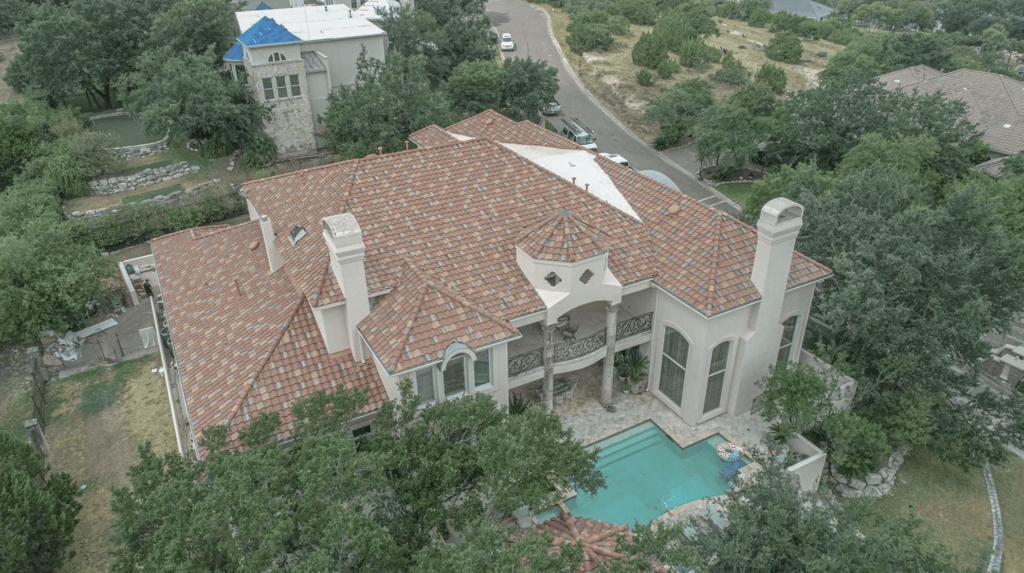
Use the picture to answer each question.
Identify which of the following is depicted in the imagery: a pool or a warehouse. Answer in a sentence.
This aerial view contains a pool.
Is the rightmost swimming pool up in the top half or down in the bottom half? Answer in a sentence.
You can find the rightmost swimming pool in the bottom half.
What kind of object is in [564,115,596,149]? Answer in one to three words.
van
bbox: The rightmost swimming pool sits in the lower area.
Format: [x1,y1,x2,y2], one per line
[560,413,764,533]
